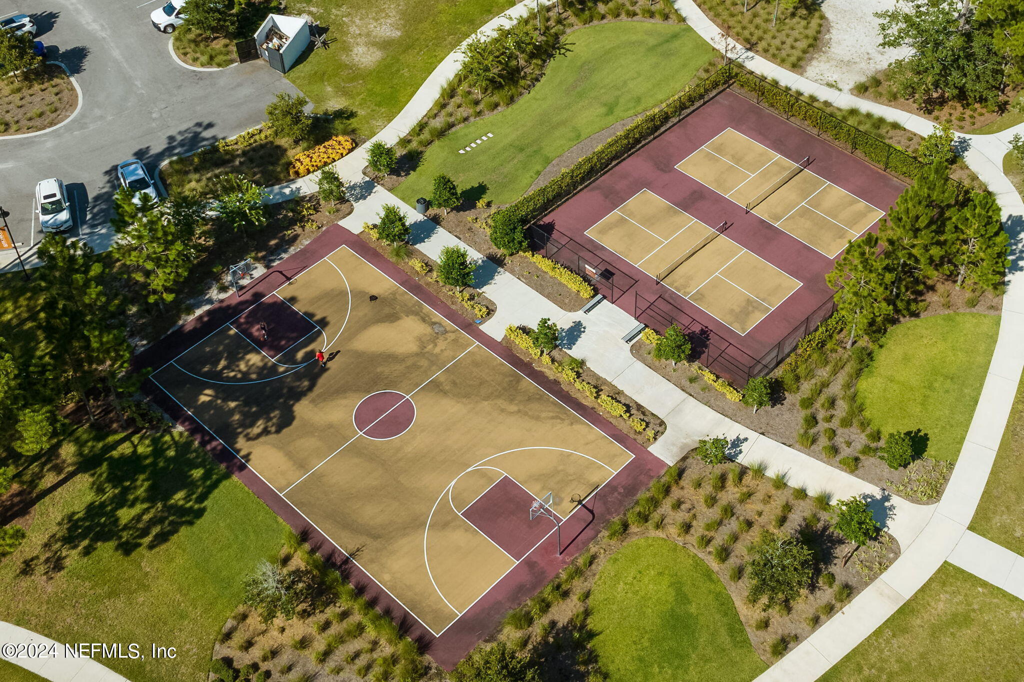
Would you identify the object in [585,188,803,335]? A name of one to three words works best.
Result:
sports court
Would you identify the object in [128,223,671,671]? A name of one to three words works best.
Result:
basketball court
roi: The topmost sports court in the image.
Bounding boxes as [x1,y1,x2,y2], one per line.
[675,127,885,258]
